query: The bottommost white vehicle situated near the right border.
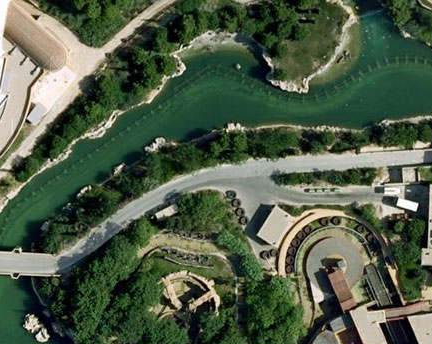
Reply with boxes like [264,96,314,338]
[394,198,418,210]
